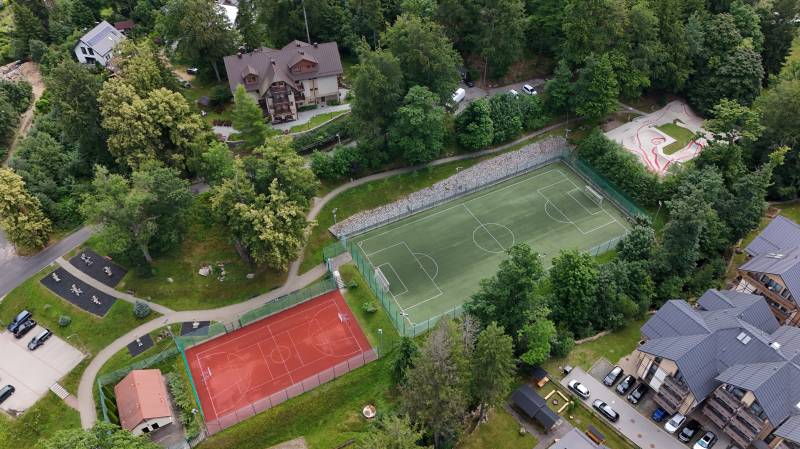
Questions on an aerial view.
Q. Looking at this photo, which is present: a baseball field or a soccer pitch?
soccer pitch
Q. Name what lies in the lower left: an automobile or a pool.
automobile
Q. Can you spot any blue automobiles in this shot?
Yes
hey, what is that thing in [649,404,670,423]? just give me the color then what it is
blue car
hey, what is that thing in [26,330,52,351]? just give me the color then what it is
gray car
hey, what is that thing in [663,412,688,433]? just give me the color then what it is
white car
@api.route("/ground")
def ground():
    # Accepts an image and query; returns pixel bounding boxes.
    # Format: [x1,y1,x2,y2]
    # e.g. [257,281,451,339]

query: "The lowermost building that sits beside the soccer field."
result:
[637,288,800,449]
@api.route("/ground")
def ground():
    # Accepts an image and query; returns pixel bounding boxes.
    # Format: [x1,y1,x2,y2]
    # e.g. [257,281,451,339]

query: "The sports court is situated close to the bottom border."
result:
[185,288,378,434]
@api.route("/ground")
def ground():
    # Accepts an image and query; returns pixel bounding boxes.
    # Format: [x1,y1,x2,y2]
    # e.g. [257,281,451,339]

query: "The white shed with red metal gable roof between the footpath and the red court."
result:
[112,366,175,436]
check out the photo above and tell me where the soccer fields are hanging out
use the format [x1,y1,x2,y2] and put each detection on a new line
[339,159,638,339]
